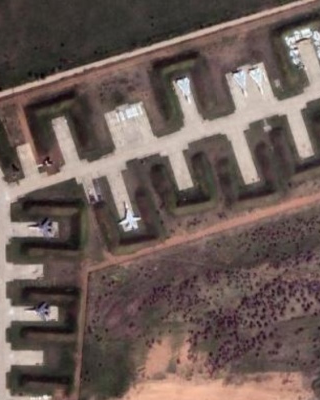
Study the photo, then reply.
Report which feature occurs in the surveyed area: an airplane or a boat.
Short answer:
airplane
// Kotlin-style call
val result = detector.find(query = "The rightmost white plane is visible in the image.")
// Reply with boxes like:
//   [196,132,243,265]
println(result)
[248,67,262,95]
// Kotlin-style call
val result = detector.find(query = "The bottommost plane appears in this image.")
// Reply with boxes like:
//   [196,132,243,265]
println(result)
[24,303,50,321]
